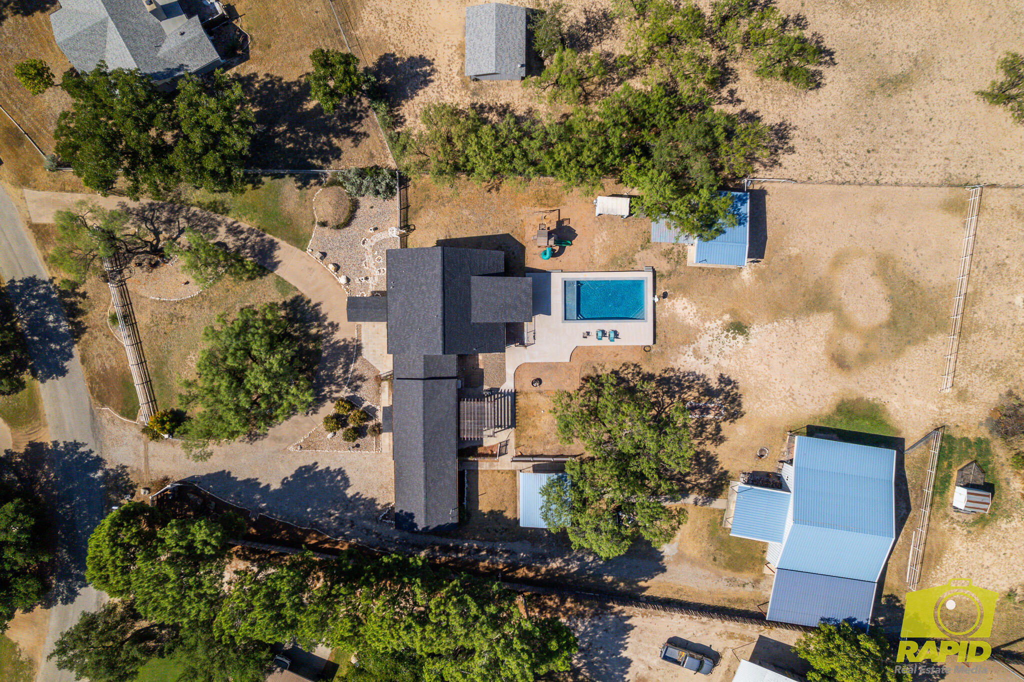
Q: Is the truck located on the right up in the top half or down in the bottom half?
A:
bottom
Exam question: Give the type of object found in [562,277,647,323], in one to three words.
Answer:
swimming pool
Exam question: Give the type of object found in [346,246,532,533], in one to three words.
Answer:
house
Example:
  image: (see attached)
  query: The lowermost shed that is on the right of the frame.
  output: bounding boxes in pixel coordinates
[731,647,798,682]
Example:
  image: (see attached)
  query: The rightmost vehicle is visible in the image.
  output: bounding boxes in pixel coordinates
[656,641,717,678]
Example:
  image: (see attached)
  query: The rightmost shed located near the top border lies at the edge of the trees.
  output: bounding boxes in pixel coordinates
[465,1,525,80]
